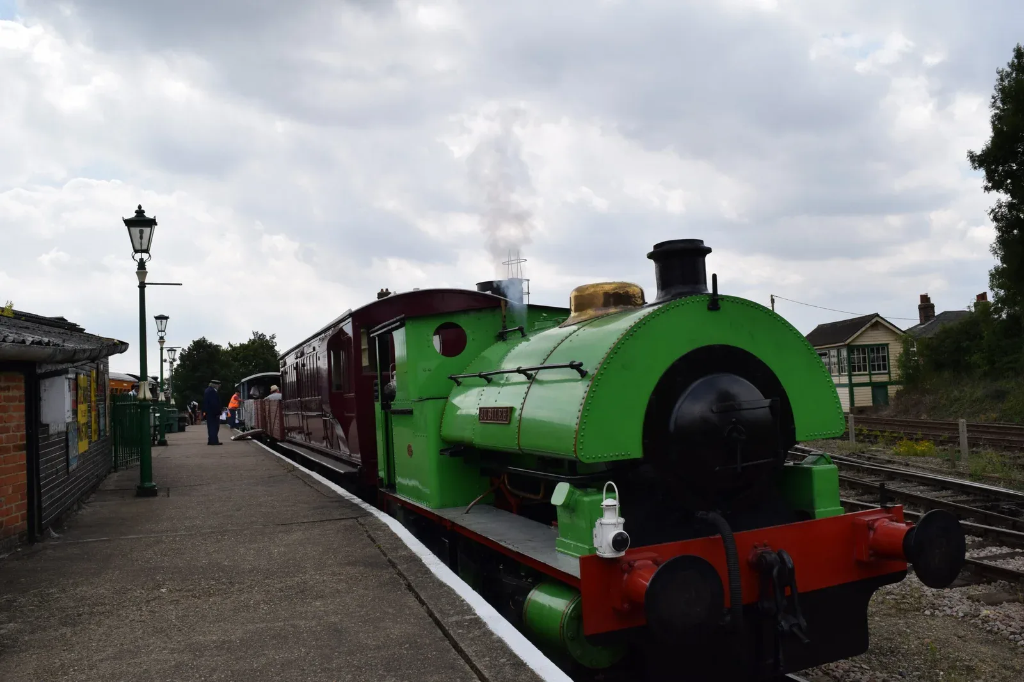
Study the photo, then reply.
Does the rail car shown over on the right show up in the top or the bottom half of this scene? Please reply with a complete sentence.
You can find the rail car shown over on the right in the bottom half.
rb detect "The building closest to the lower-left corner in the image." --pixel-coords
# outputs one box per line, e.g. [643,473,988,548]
[0,307,137,566]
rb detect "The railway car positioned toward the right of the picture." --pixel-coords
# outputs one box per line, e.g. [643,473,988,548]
[365,240,964,682]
